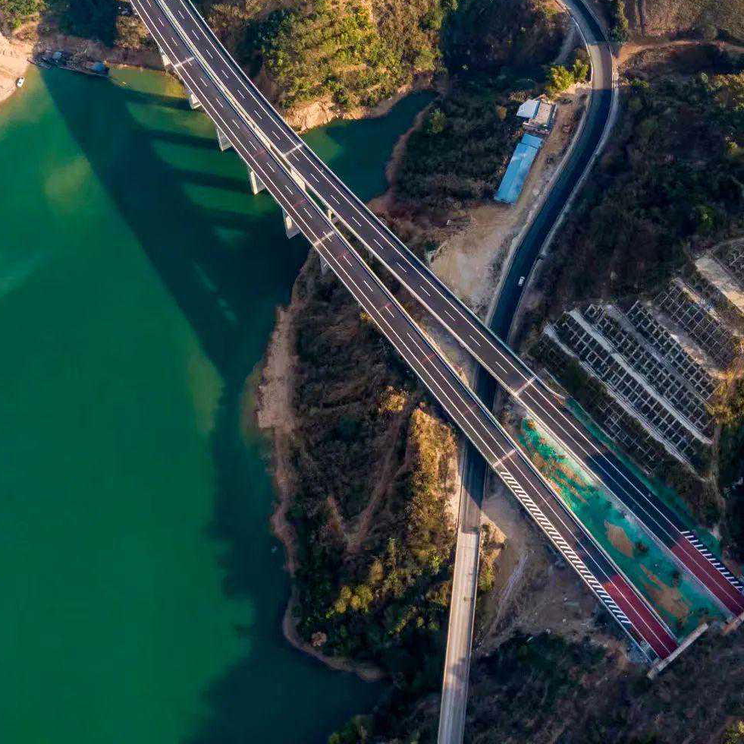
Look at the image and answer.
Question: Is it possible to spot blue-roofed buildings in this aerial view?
Yes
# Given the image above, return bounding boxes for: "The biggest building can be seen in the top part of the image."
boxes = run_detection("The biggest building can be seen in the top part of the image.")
[496,135,540,202]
